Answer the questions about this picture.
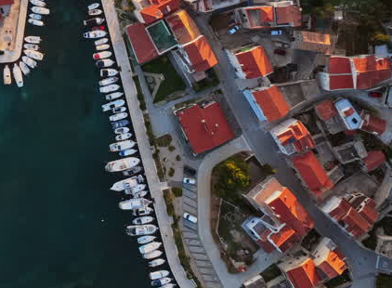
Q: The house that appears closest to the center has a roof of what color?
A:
red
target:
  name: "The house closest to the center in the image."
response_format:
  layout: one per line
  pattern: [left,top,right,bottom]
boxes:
[176,101,234,152]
